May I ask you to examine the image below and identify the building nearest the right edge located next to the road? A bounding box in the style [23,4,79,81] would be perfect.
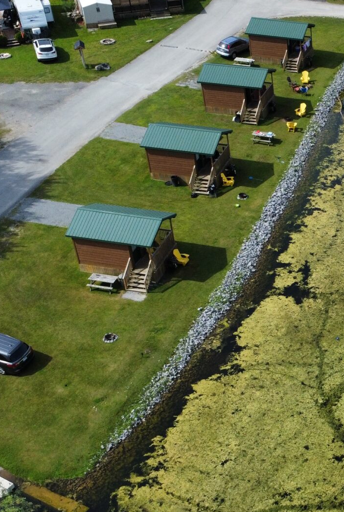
[245,16,320,72]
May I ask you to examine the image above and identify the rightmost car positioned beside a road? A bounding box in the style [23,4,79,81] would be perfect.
[216,36,249,59]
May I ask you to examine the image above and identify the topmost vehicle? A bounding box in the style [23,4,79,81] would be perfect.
[19,0,64,41]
